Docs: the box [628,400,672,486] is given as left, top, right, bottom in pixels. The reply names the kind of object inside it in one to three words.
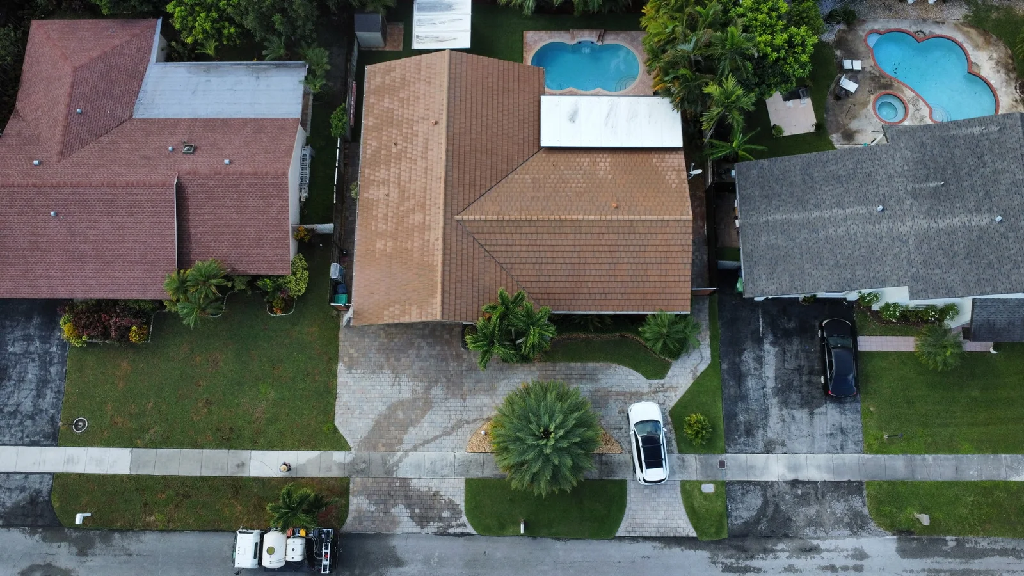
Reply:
car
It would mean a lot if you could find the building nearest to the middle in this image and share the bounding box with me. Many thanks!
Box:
[350,50,692,326]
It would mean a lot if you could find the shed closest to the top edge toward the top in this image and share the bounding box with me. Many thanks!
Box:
[354,13,386,48]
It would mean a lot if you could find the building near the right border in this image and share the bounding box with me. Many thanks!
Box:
[732,113,1024,343]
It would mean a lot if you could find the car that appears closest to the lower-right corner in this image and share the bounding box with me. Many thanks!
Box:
[816,318,861,398]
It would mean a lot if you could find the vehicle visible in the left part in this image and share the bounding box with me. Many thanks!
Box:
[229,520,343,575]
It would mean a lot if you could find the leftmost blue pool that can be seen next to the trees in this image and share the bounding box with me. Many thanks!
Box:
[529,39,642,94]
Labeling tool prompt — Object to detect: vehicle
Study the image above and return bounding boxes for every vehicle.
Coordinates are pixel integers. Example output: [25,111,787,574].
[229,520,343,575]
[628,400,672,486]
[816,318,861,398]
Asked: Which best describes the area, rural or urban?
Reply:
urban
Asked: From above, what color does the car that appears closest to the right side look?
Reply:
black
